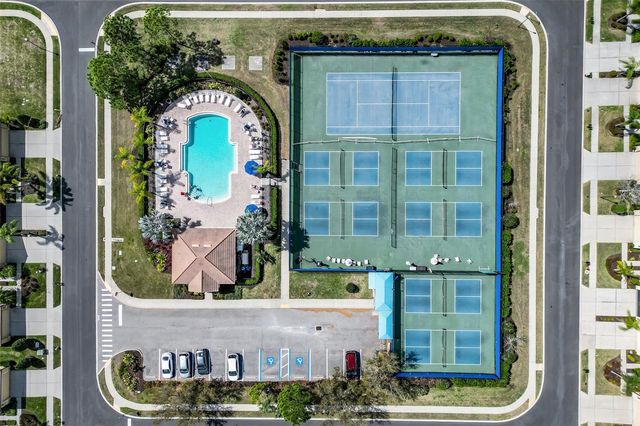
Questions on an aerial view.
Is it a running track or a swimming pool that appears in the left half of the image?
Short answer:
swimming pool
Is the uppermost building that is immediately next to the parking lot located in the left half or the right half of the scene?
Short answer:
left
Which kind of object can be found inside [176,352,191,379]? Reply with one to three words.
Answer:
car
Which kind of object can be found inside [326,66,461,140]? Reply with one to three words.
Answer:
tennis court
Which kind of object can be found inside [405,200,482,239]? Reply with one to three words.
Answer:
sports court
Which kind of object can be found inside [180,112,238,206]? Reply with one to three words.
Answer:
swimming pool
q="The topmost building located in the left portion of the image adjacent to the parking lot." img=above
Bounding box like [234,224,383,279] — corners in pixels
[171,228,236,293]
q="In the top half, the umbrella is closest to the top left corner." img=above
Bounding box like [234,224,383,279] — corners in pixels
[244,160,261,176]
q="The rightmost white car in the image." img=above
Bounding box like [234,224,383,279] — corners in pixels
[226,353,239,382]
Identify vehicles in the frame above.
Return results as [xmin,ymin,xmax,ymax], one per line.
[159,352,172,380]
[345,351,358,380]
[194,349,209,377]
[176,352,191,379]
[226,353,239,382]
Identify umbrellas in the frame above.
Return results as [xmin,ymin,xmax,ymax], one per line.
[245,202,260,214]
[244,160,261,176]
